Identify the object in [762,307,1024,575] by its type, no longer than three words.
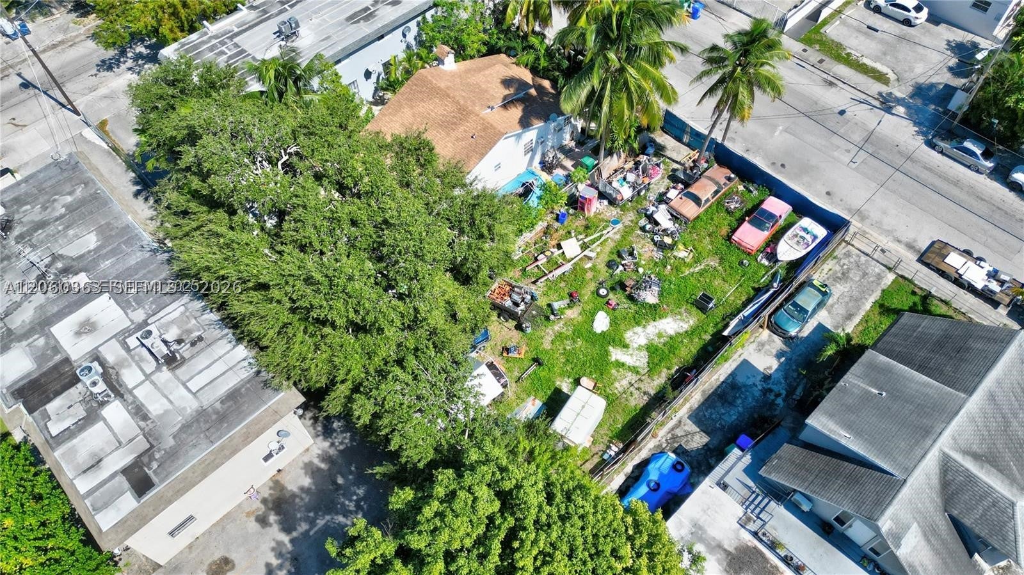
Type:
house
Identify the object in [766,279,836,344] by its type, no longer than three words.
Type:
car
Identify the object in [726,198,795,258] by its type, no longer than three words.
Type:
car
